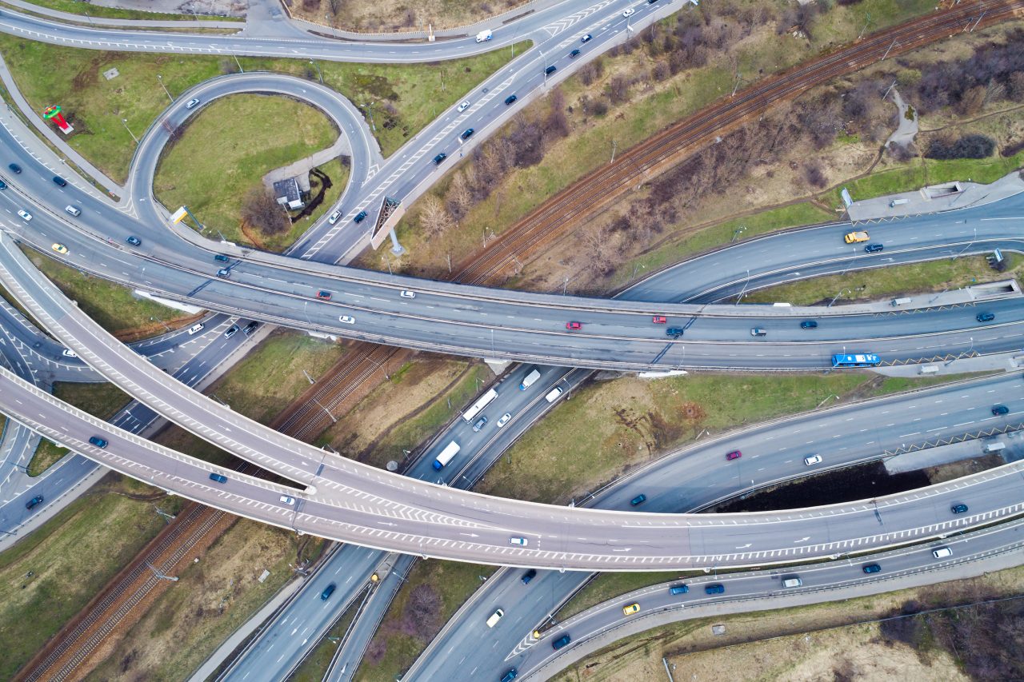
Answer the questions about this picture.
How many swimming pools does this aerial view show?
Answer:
zero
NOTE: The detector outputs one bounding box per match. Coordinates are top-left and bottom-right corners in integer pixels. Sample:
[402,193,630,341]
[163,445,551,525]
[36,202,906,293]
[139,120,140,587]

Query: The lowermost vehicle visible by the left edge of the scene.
[25,494,44,511]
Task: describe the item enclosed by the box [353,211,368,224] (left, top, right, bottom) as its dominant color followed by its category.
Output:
blue vehicle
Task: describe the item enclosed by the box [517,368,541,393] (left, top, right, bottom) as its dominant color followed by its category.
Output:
white truck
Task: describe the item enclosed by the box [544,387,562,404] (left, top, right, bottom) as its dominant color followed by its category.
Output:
white vehicle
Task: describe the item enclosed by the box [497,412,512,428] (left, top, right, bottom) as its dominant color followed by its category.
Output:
white car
